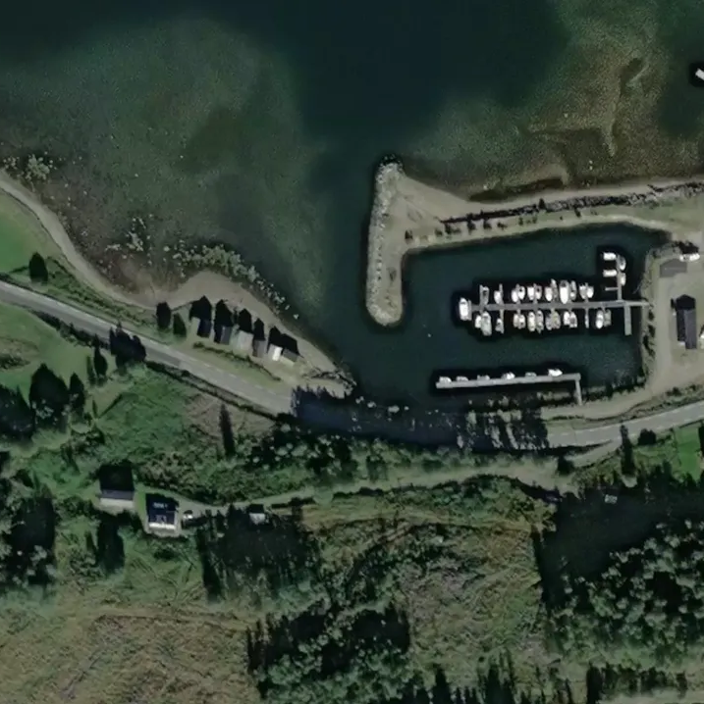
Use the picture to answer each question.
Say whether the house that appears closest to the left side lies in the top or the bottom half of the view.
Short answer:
bottom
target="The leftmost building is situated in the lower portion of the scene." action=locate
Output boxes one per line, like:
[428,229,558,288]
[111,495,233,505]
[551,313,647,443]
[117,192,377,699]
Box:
[100,489,135,510]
